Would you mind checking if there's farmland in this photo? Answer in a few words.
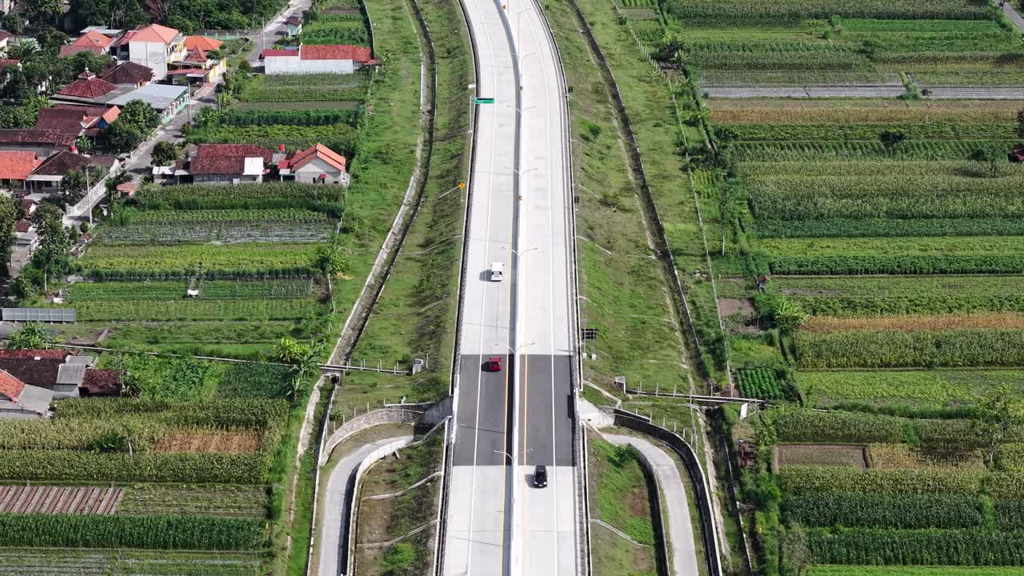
Yes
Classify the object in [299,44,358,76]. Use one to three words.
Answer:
building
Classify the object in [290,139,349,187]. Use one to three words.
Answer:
house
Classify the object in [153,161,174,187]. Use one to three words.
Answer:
shed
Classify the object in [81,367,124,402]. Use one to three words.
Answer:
house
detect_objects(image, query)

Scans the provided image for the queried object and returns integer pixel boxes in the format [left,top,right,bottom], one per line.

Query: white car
[490,263,504,279]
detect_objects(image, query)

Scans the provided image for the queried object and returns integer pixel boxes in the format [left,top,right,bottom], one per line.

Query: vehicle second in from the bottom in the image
[487,354,501,369]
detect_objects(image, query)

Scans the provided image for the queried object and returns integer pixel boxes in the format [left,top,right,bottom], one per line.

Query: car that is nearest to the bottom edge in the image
[532,460,549,483]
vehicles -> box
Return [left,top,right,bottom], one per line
[487,354,501,369]
[532,460,549,483]
[490,263,504,279]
